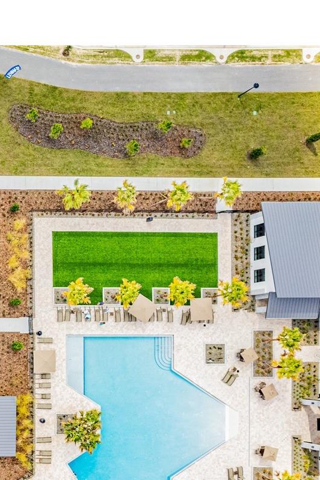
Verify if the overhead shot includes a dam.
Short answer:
No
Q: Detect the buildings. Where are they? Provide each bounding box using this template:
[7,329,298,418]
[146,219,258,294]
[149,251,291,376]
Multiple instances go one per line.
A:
[0,396,16,456]
[251,202,320,318]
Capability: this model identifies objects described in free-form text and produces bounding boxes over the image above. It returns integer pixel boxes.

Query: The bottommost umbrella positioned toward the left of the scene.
[34,351,55,372]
